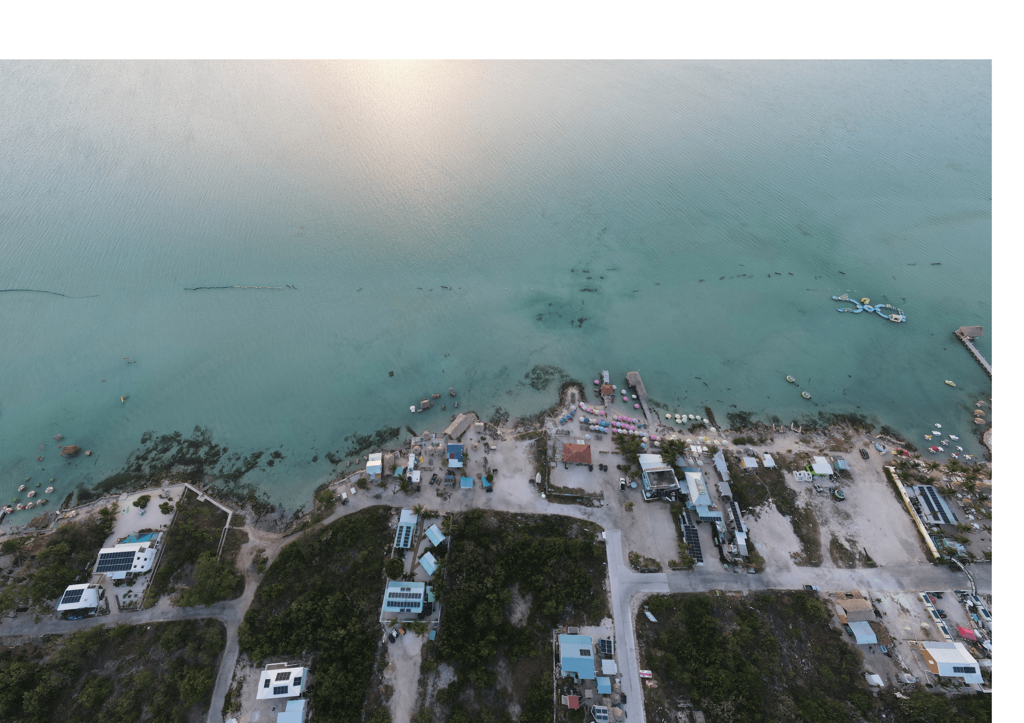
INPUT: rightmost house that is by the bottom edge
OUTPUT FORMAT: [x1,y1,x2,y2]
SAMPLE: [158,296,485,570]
[909,642,985,691]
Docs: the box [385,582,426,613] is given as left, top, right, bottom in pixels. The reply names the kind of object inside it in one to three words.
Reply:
house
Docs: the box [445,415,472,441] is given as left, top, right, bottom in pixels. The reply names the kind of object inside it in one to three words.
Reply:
building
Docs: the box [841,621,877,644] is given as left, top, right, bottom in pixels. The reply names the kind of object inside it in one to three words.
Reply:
building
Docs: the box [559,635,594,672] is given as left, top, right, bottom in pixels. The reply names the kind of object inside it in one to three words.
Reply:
house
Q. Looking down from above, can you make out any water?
Yes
